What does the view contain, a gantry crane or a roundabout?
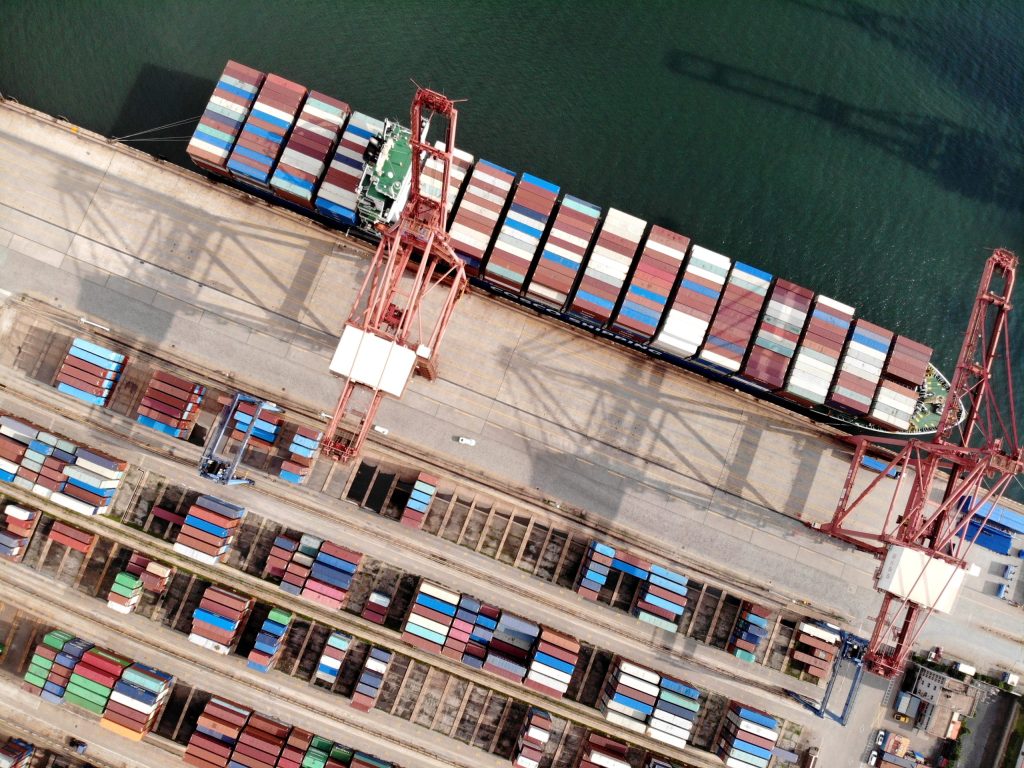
gantry crane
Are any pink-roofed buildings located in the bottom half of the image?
No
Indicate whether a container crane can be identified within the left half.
Yes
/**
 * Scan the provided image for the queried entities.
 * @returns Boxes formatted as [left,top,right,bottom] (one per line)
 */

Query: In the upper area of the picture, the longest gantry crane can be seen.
[317,77,479,466]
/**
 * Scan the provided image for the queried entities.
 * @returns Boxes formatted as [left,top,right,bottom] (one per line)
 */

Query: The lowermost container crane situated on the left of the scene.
[199,388,291,494]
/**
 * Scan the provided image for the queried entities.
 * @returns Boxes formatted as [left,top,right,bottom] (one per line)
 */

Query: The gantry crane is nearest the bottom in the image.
[782,612,879,735]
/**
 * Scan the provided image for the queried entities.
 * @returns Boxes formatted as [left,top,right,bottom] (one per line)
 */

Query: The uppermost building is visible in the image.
[896,660,980,743]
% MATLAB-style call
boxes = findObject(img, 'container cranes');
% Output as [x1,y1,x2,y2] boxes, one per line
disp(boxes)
[199,388,291,494]
[805,250,1024,683]
[317,77,479,466]
[782,612,879,735]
